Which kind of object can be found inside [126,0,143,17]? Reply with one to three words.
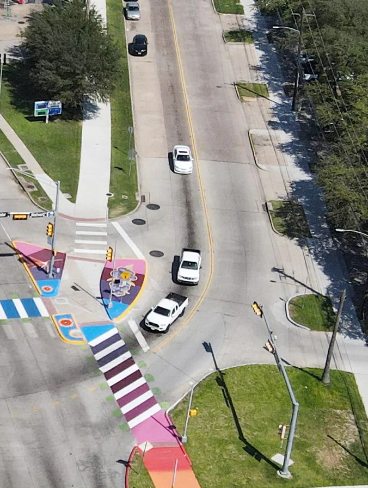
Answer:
car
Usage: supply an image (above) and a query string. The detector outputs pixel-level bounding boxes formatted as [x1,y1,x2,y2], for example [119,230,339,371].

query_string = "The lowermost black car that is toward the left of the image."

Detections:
[132,34,149,53]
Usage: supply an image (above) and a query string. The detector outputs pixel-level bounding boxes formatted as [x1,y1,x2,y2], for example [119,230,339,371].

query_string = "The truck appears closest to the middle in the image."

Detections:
[177,243,204,281]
